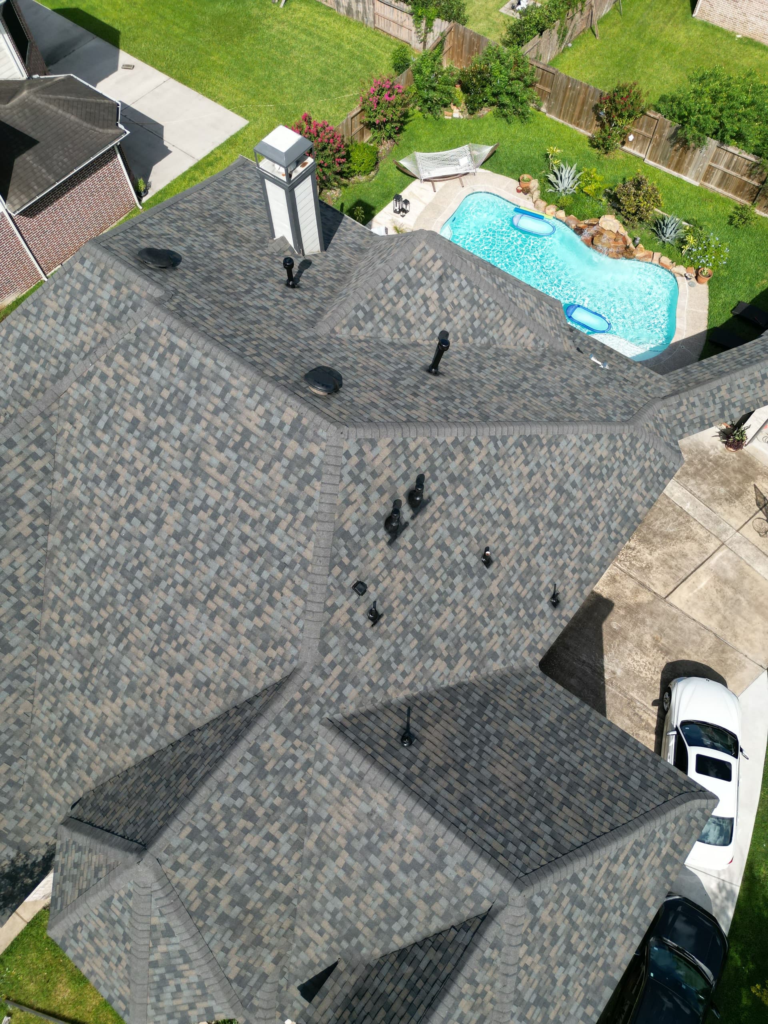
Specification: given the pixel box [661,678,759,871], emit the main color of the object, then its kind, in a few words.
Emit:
white car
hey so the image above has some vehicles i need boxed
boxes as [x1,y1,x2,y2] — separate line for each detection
[590,885,732,1024]
[661,678,759,871]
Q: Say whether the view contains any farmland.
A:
No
